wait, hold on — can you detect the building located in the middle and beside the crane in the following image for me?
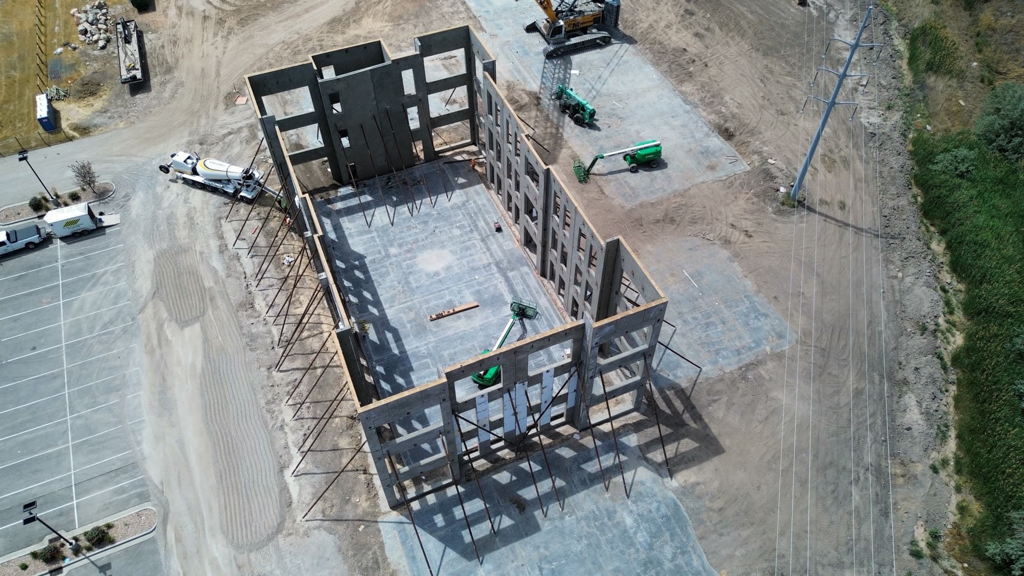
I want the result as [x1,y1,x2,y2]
[245,24,668,514]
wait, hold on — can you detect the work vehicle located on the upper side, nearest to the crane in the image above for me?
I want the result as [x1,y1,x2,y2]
[547,89,598,124]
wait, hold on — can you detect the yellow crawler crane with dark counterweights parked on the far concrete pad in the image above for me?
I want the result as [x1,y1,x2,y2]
[526,0,624,54]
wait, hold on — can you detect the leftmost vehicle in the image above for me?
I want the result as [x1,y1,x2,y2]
[0,227,41,255]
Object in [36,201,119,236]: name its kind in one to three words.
trailer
